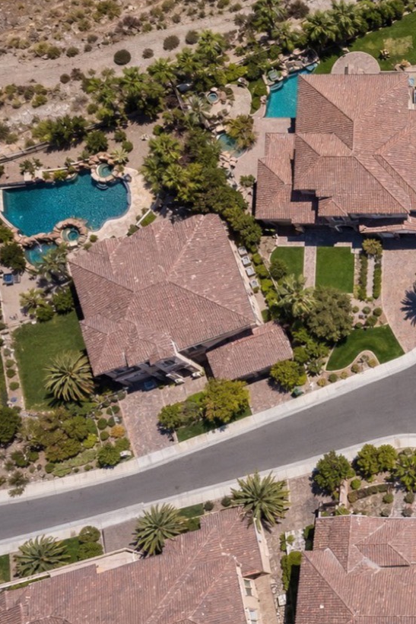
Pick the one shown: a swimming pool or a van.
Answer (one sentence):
I can see a swimming pool in this picture.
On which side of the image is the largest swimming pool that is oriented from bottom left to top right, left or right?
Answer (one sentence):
The largest swimming pool that is oriented from bottom left to top right appears in the right half of the scene.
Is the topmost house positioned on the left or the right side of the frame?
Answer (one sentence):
It is on the right.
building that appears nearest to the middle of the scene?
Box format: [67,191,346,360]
[67,213,295,384]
